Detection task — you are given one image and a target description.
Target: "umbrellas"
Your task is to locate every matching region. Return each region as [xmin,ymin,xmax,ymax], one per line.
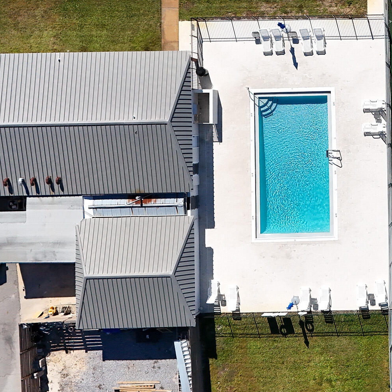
[276,23,292,35]
[286,297,299,309]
